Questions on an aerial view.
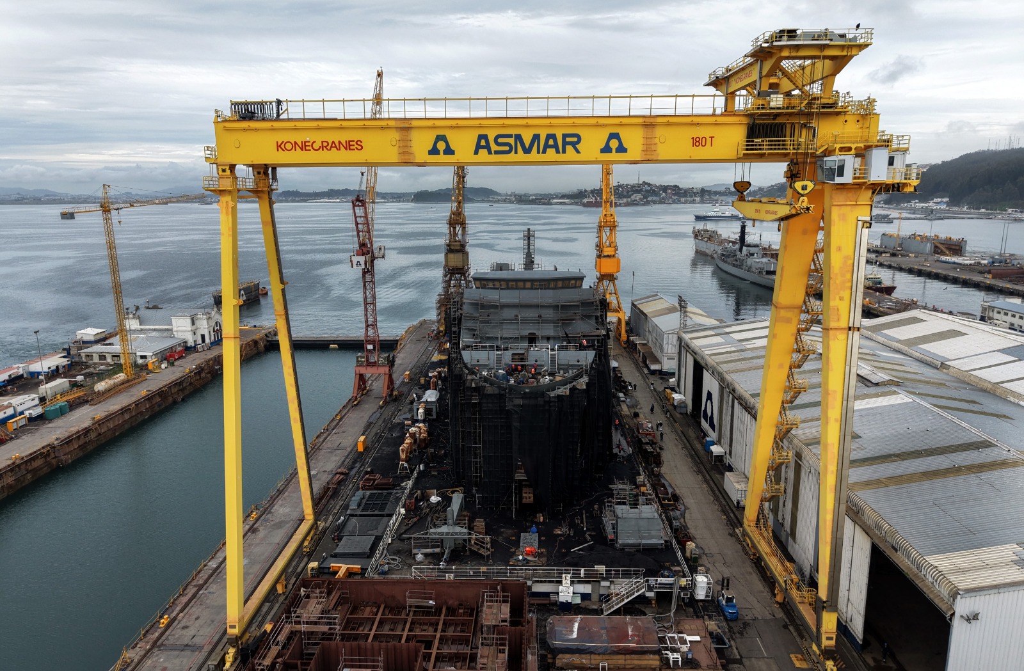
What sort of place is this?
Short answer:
port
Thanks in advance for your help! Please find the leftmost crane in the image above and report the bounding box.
[65,185,206,379]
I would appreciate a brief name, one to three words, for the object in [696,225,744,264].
ship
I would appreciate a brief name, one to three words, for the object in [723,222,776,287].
ship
